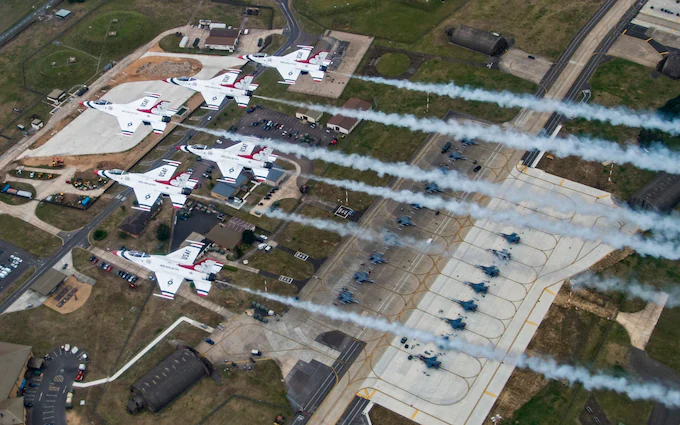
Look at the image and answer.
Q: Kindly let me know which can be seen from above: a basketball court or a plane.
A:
plane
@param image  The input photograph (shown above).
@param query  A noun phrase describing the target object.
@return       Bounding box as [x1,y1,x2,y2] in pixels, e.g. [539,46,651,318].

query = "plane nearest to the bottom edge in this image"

[417,353,445,369]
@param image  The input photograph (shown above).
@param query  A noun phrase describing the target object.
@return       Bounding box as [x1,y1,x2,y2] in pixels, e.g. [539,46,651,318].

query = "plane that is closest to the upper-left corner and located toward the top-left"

[80,92,178,137]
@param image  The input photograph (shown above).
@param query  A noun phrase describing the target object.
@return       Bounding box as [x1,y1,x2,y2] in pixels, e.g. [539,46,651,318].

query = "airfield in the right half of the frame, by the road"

[196,0,680,425]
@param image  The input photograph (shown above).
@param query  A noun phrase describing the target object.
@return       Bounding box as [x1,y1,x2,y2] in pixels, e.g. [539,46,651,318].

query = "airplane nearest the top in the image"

[239,45,332,86]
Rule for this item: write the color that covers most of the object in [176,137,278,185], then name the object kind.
white airplane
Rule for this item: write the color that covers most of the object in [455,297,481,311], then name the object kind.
blue airplane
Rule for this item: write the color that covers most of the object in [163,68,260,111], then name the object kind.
white airplane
